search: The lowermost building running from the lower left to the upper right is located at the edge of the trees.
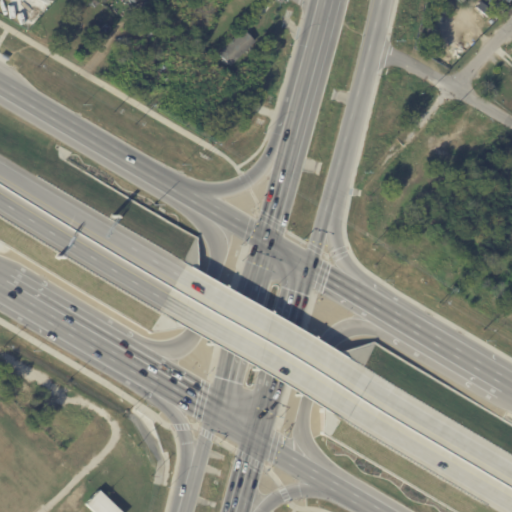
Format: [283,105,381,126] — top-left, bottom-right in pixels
[222,30,258,64]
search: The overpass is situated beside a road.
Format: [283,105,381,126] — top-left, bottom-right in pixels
[158,262,378,423]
